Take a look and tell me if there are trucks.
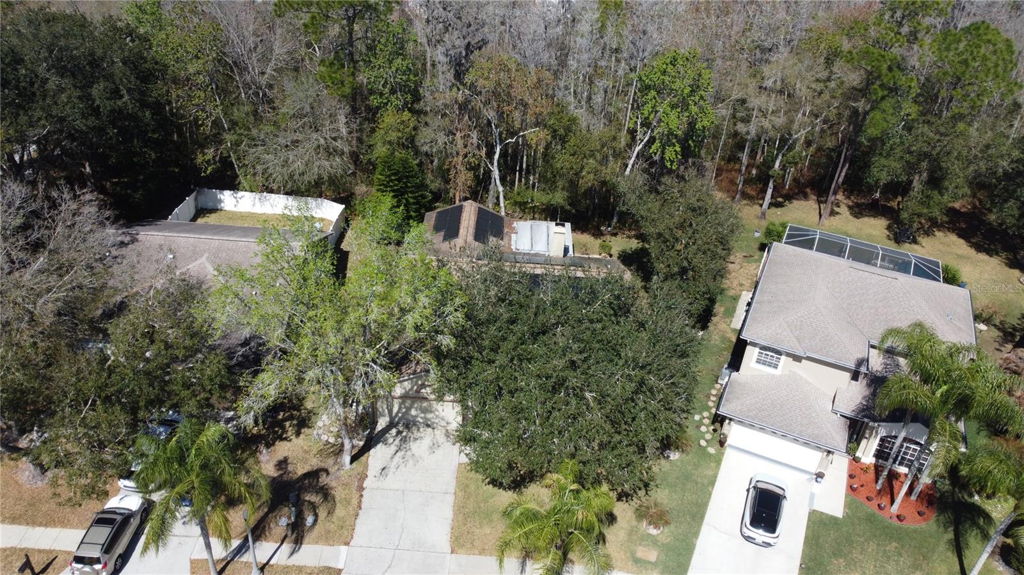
No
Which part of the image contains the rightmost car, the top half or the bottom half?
bottom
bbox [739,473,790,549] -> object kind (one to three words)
car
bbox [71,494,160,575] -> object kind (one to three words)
car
